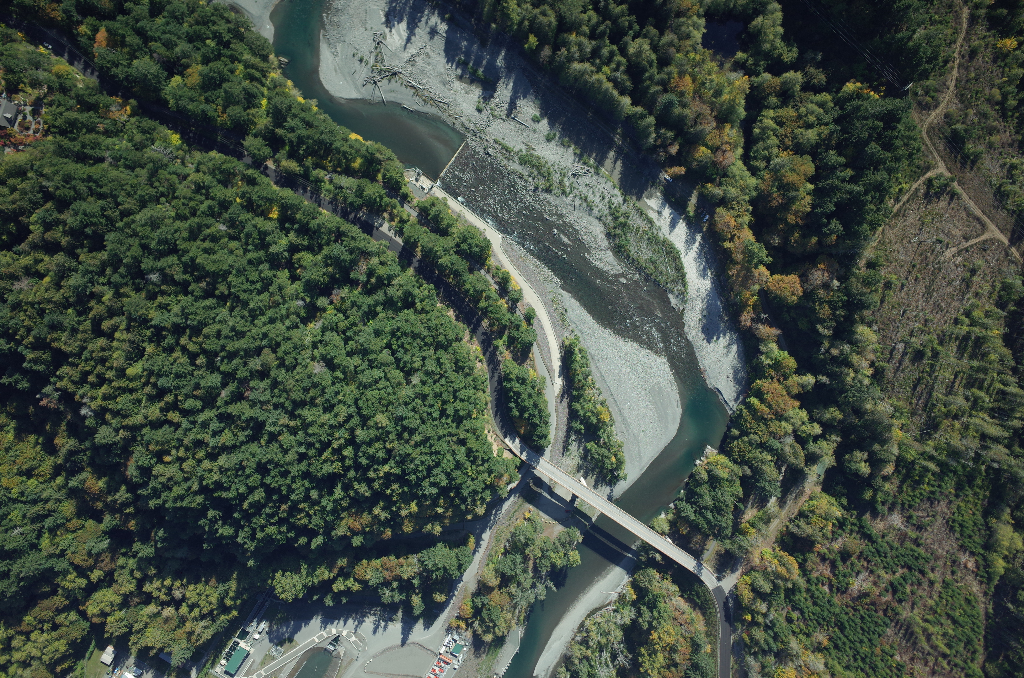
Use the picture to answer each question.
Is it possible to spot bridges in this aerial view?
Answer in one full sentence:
Yes, a bridge appears in the view.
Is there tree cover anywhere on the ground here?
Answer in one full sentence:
Yes, some tree cover is visible.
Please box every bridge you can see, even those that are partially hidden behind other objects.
[507,435,722,591]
